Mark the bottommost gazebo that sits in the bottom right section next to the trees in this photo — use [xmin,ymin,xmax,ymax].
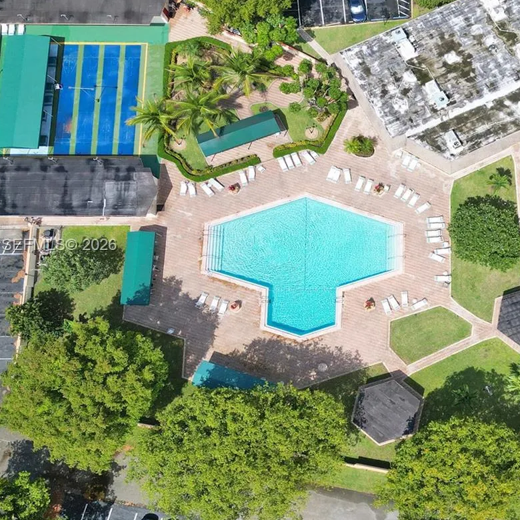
[353,377,423,446]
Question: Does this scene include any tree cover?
Yes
